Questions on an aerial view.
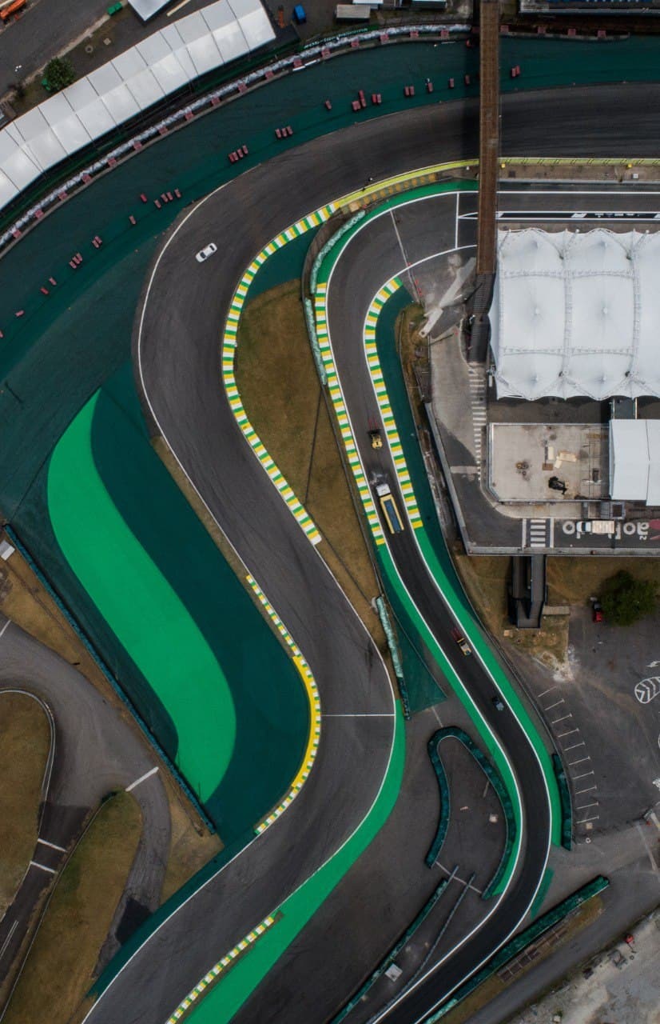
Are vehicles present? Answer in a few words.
Yes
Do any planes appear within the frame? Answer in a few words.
No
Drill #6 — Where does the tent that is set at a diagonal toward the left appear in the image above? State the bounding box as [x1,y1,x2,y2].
[0,0,281,219]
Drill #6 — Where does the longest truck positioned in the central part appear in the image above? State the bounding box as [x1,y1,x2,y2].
[378,483,403,533]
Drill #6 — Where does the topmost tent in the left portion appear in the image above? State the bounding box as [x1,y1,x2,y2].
[128,0,175,26]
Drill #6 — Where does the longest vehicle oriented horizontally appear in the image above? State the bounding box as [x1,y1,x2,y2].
[578,521,619,534]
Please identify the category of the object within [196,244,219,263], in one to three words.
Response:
car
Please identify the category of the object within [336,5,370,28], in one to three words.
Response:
building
